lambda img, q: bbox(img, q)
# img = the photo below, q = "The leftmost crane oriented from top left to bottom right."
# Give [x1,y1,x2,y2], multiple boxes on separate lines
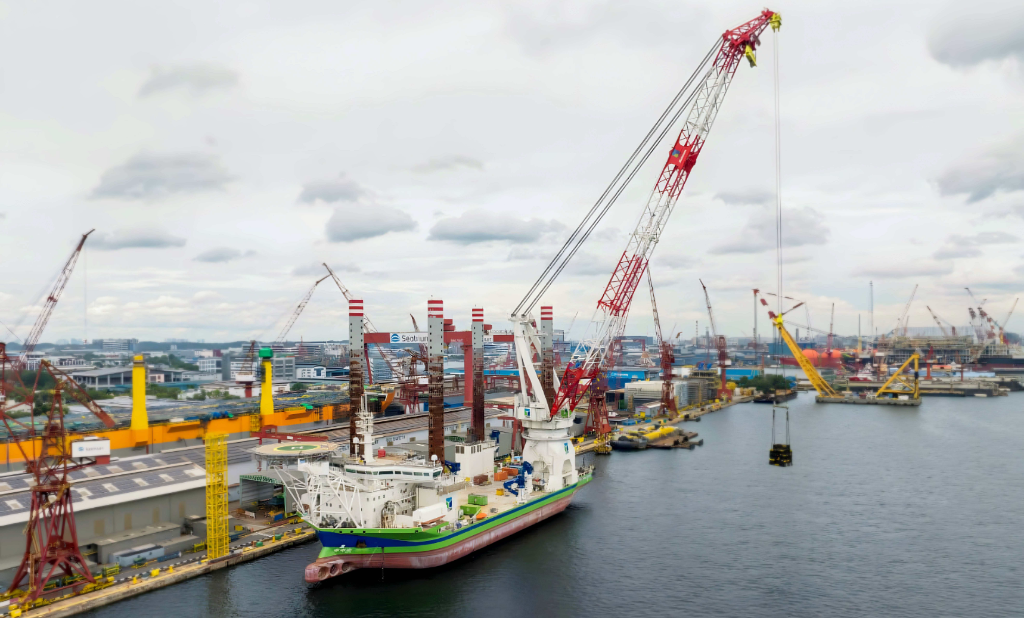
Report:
[323,264,428,415]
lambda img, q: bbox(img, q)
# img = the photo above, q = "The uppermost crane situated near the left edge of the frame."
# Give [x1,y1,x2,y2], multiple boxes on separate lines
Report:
[5,229,95,418]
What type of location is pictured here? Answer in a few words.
port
